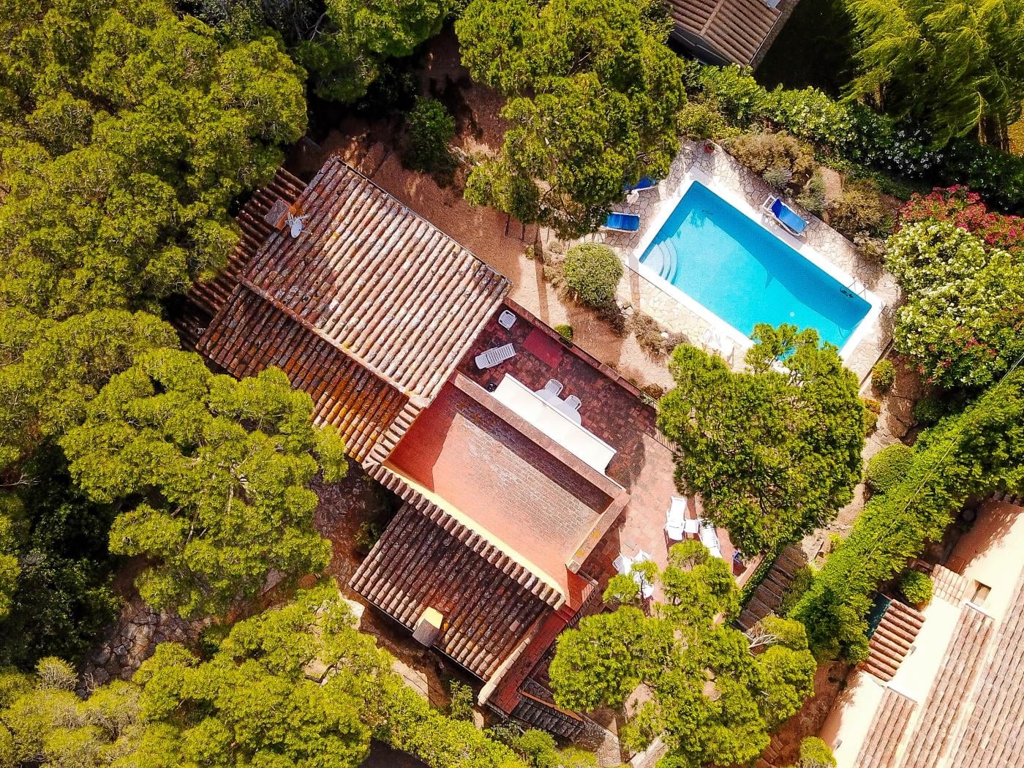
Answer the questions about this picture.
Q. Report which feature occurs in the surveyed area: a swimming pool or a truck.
swimming pool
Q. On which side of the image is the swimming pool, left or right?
right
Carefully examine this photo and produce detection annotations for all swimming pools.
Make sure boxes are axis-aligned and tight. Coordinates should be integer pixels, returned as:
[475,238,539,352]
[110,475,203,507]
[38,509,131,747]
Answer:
[622,160,894,397]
